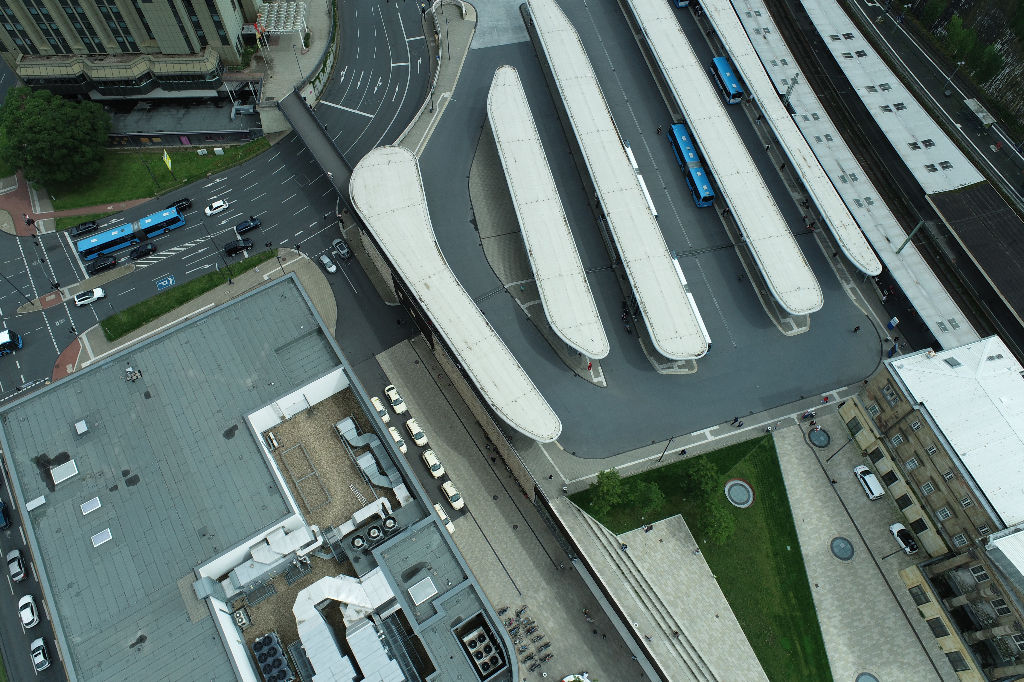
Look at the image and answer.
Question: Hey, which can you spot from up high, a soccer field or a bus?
bus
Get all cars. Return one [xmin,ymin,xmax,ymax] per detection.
[73,287,105,306]
[224,237,252,254]
[890,521,919,553]
[420,448,445,478]
[129,242,158,261]
[439,480,465,511]
[70,218,98,236]
[404,418,428,447]
[434,500,455,531]
[87,255,116,275]
[384,386,407,414]
[372,397,390,423]
[390,426,408,454]
[317,253,335,272]
[166,196,193,209]
[333,238,351,258]
[4,548,28,580]
[27,637,52,672]
[204,200,229,216]
[15,594,40,629]
[0,498,11,528]
[234,218,260,234]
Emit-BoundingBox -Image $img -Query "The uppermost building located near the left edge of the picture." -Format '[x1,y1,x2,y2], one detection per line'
[0,0,272,108]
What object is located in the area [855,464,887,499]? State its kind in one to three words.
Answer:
van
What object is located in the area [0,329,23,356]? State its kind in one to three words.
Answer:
bus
